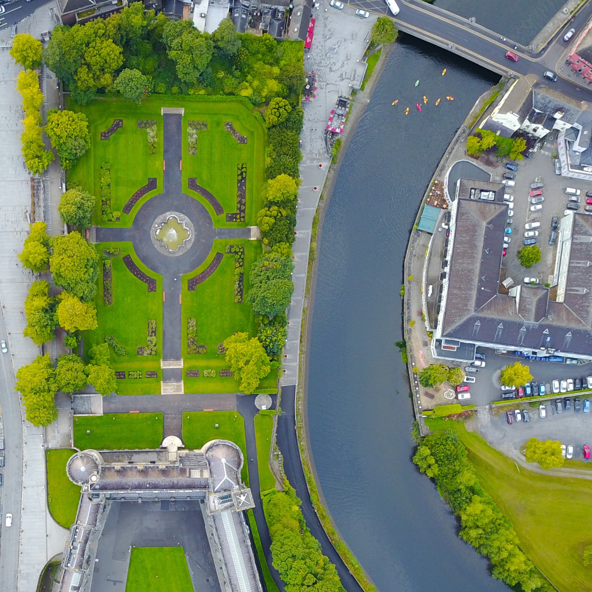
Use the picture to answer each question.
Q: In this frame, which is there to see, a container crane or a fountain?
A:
fountain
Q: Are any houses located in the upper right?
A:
Yes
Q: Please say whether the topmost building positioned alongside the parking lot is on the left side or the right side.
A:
right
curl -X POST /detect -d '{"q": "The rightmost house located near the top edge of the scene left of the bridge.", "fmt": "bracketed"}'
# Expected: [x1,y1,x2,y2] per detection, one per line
[287,0,318,50]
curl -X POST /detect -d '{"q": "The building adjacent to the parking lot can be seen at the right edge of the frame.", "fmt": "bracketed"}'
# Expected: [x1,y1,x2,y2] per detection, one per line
[432,160,592,362]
